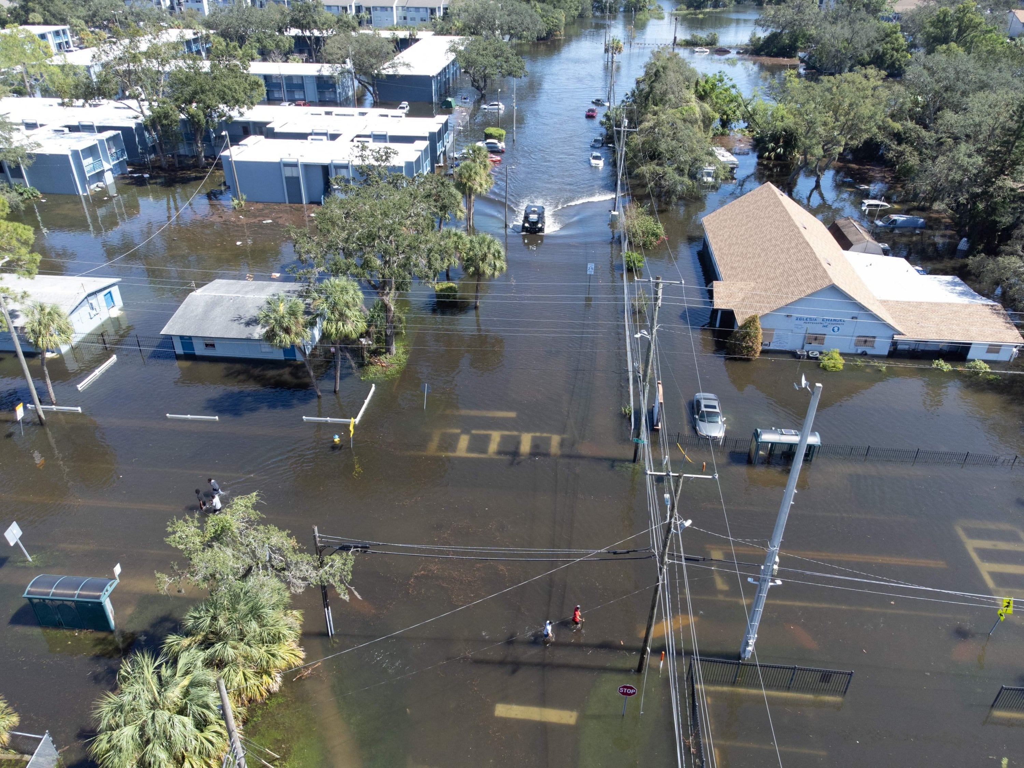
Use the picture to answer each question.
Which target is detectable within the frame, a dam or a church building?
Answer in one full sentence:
The image shows a church building.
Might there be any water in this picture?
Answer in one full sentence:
Yes, water can be seen from above here.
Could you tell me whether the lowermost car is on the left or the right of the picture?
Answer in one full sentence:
It is on the right.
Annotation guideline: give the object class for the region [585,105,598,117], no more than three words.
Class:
vehicle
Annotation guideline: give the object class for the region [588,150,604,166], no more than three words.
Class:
car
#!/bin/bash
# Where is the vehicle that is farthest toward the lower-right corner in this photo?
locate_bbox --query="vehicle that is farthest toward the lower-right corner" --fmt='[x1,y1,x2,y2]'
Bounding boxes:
[692,395,728,442]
